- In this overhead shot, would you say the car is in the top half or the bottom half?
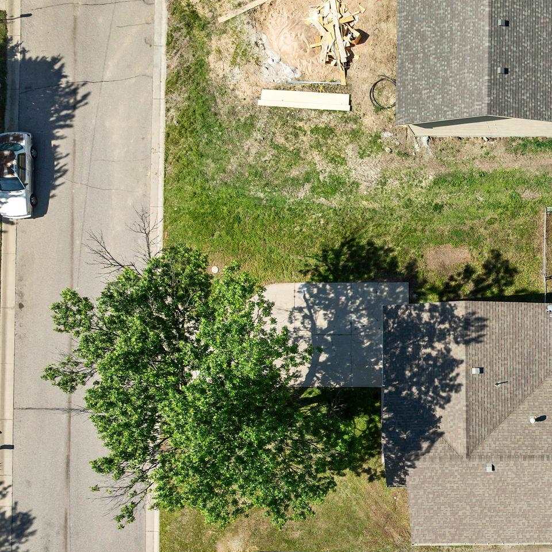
top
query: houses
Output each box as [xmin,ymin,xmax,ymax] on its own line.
[397,0,552,137]
[379,301,552,546]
